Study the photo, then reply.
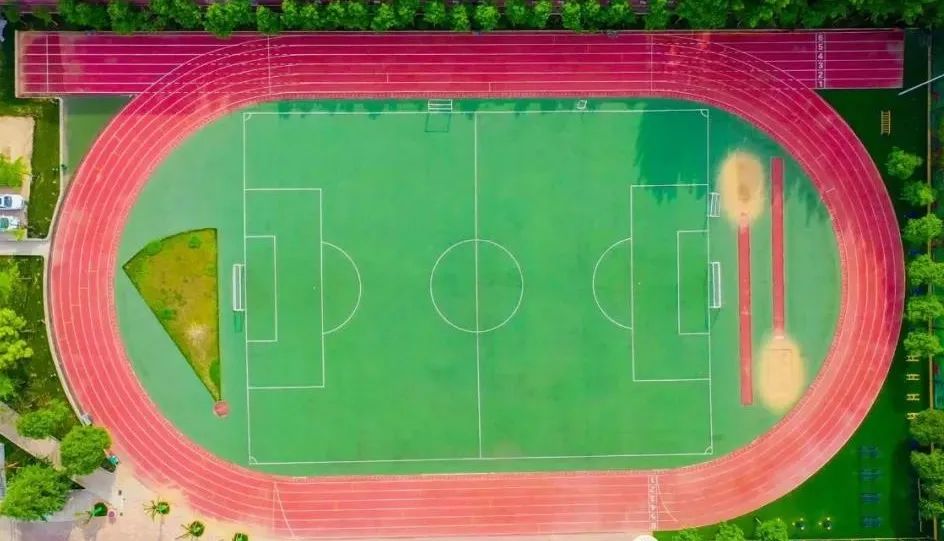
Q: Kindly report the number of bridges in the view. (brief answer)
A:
0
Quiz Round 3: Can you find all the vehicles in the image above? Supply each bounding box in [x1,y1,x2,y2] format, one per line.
[0,213,23,229]
[0,192,28,209]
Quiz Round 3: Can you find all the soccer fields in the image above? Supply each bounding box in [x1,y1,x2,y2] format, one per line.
[244,110,712,463]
